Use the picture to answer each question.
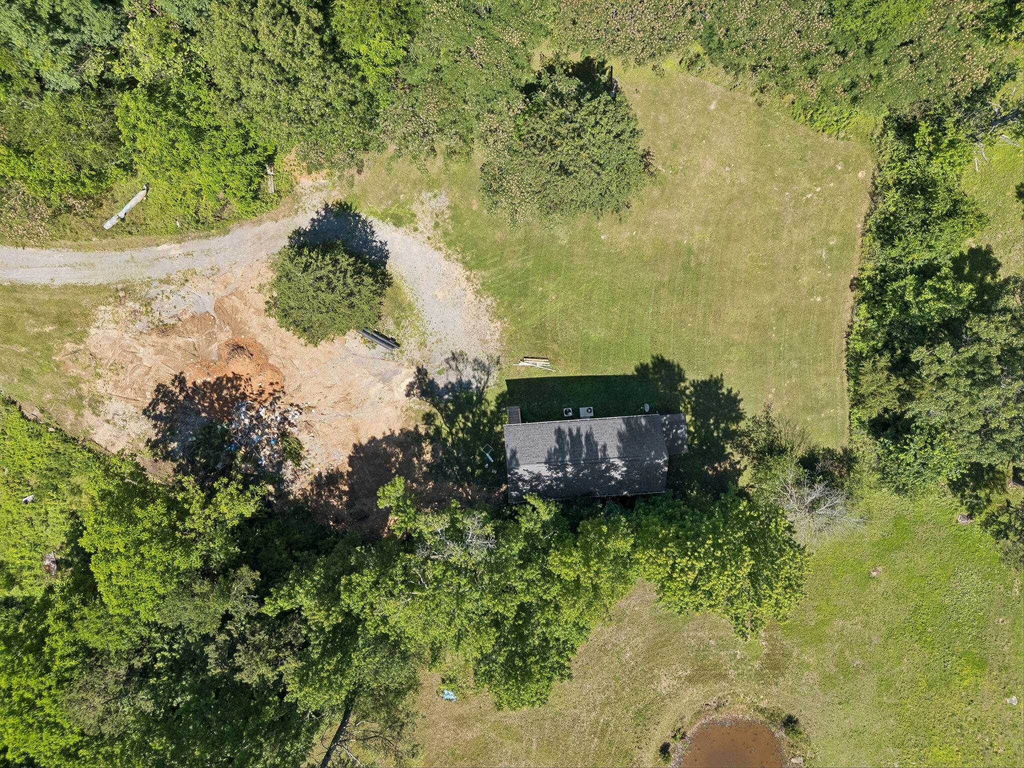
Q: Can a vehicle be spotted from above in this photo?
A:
No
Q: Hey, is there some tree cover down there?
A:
Yes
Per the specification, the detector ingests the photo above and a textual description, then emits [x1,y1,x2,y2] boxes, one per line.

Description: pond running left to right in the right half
[672,714,789,768]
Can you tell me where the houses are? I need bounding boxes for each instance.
[504,412,688,508]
